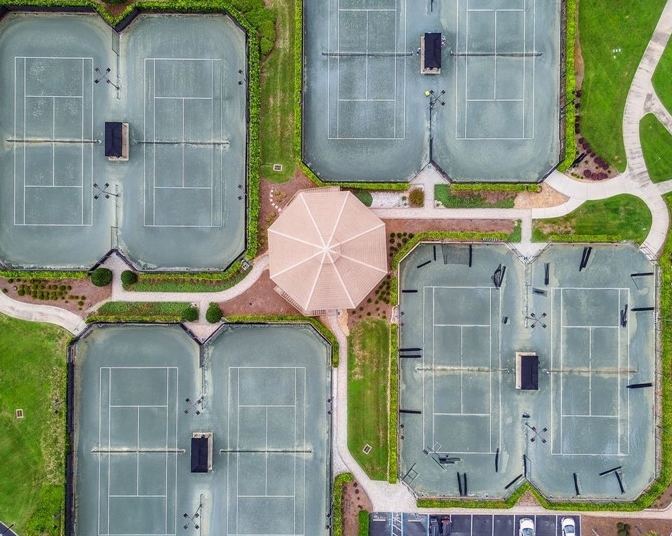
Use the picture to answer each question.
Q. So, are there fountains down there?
No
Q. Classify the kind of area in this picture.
sports ground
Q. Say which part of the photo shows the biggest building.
center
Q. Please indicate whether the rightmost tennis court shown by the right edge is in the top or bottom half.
bottom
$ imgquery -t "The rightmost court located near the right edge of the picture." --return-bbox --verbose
[526,244,655,500]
